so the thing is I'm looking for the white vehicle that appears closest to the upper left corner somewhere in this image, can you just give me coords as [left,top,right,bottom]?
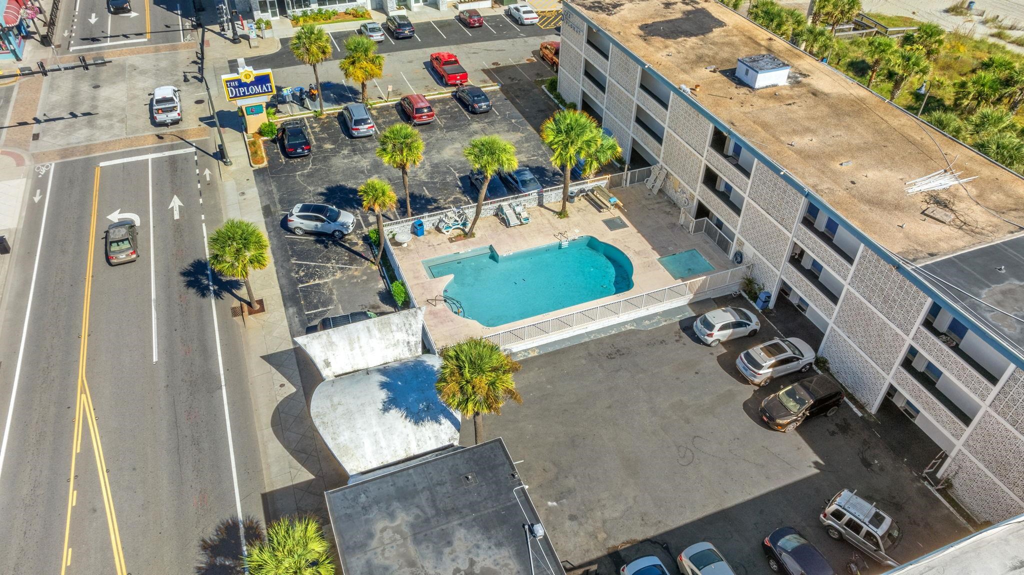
[148,85,180,121]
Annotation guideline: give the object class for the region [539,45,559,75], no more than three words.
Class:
vehicle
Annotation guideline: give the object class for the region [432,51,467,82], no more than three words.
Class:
truck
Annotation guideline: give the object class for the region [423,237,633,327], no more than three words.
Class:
swimming pool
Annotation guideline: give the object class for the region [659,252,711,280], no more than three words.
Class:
swimming pool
